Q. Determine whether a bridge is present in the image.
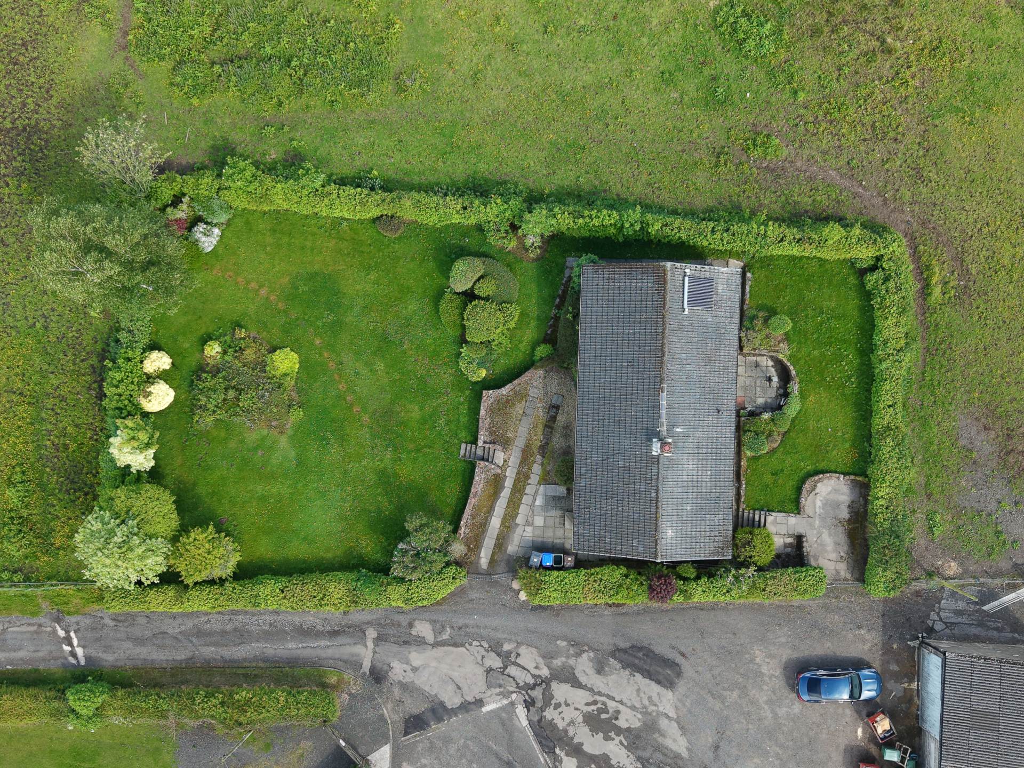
No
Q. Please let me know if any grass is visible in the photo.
Yes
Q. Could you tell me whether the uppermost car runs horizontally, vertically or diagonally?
horizontally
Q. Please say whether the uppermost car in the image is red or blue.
blue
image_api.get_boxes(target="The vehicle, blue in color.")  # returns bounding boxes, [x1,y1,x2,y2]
[793,664,882,708]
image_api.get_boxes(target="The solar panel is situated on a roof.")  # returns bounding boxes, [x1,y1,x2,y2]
[684,266,712,315]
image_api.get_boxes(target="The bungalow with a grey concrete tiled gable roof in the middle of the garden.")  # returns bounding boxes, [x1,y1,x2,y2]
[569,259,744,565]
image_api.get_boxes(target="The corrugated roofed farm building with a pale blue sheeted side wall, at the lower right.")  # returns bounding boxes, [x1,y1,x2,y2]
[916,636,1024,768]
